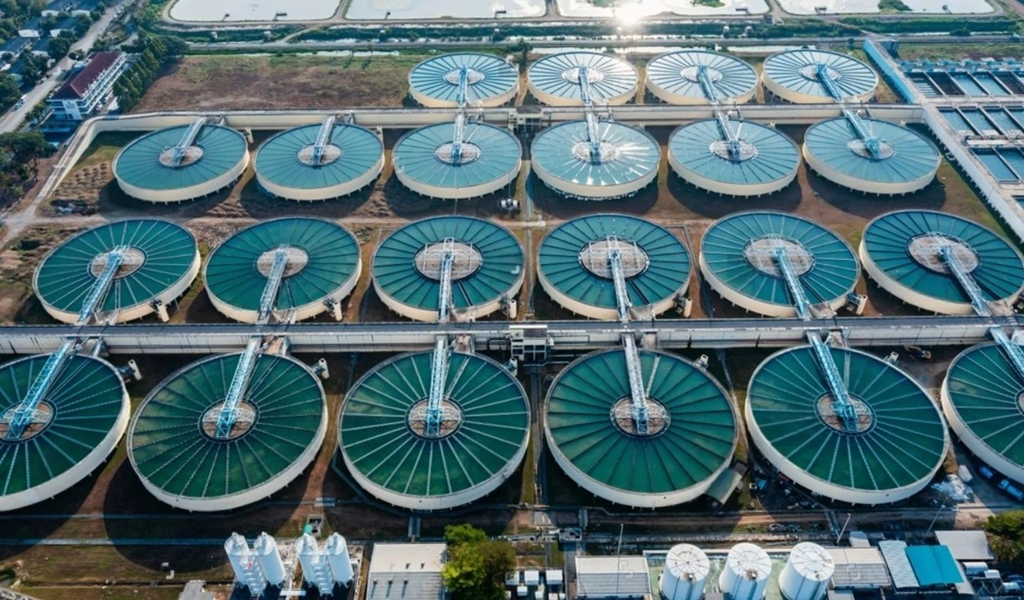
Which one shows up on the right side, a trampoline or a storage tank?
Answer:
storage tank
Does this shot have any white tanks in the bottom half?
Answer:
Yes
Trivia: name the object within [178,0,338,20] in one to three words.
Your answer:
pond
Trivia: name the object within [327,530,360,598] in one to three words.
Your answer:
silo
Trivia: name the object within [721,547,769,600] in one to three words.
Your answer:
storage tank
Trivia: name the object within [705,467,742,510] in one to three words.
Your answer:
shed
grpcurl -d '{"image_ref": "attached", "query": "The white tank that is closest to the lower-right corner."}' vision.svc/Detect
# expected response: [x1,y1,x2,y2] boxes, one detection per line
[781,545,832,600]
